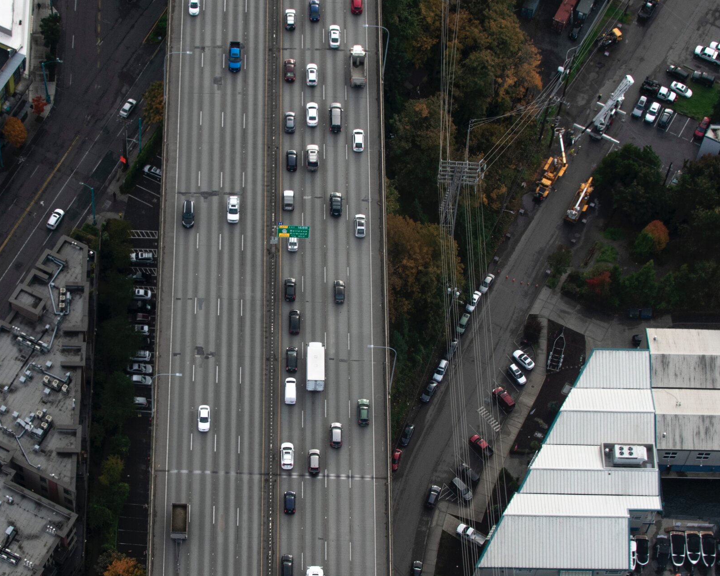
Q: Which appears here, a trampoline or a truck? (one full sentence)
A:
The one in the frame is a truck.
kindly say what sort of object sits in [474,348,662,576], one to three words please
building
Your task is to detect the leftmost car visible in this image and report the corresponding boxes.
[47,209,64,231]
